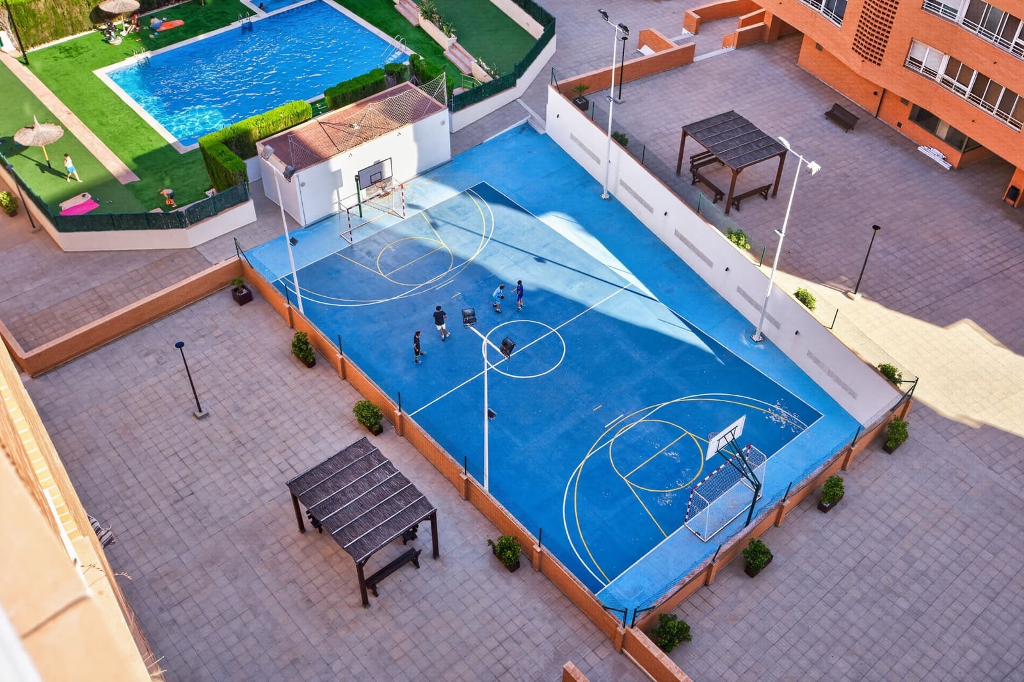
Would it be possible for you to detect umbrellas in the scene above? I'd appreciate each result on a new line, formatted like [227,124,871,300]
[93,0,138,33]
[10,117,64,168]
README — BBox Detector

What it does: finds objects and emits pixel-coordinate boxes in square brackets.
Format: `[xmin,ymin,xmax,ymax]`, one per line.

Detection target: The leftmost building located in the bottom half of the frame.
[0,331,168,682]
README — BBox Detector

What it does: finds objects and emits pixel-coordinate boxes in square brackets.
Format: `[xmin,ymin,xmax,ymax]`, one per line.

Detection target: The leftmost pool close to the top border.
[105,0,408,143]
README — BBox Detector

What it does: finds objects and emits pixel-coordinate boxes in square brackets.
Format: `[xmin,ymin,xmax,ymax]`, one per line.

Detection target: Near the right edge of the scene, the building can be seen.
[751,0,1024,208]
